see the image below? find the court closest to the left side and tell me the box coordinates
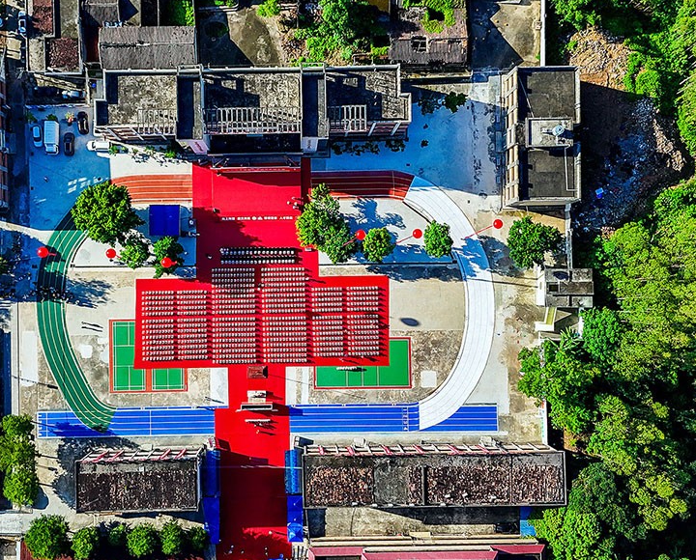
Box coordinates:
[109,319,149,392]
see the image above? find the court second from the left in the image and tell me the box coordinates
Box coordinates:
[149,368,188,392]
